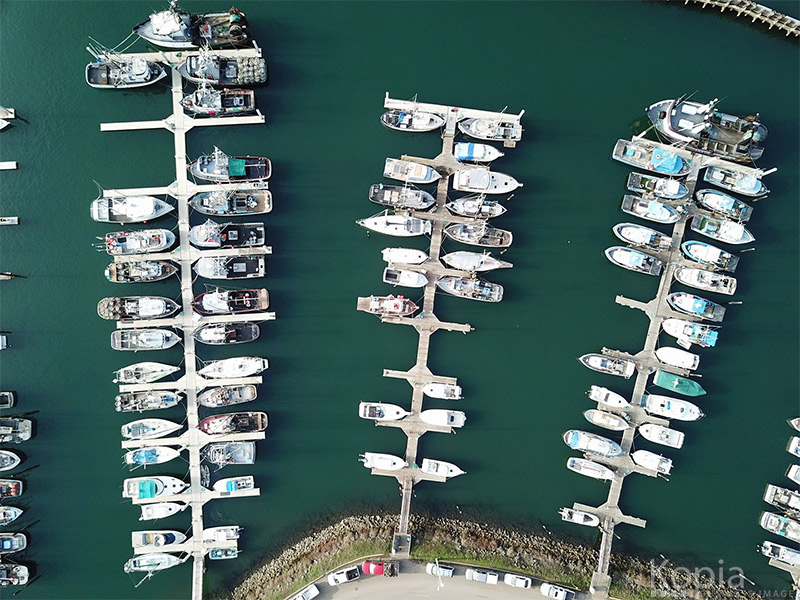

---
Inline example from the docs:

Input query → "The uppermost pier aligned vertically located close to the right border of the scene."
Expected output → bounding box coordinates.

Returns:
[573,134,764,531]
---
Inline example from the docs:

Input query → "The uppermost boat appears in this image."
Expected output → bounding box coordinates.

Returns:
[129,0,252,49]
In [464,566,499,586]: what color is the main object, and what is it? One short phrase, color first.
white vehicle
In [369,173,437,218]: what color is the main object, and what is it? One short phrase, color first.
white boat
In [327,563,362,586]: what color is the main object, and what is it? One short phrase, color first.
white truck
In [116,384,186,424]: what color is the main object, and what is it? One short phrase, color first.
white boat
